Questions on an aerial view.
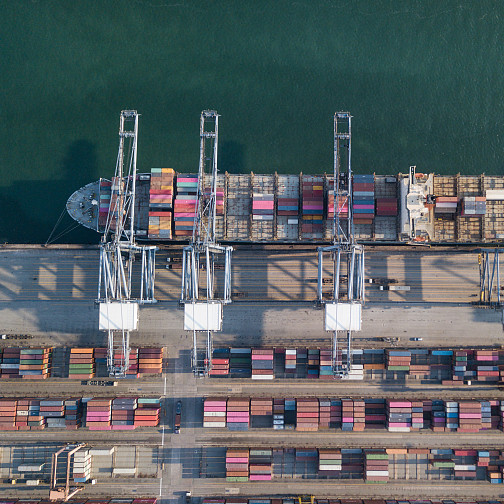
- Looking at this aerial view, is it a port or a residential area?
port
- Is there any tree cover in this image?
No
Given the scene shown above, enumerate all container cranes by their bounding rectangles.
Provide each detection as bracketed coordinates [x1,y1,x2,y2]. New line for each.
[313,110,369,376]
[96,109,178,375]
[179,110,250,376]
[470,237,504,334]
[49,444,88,502]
